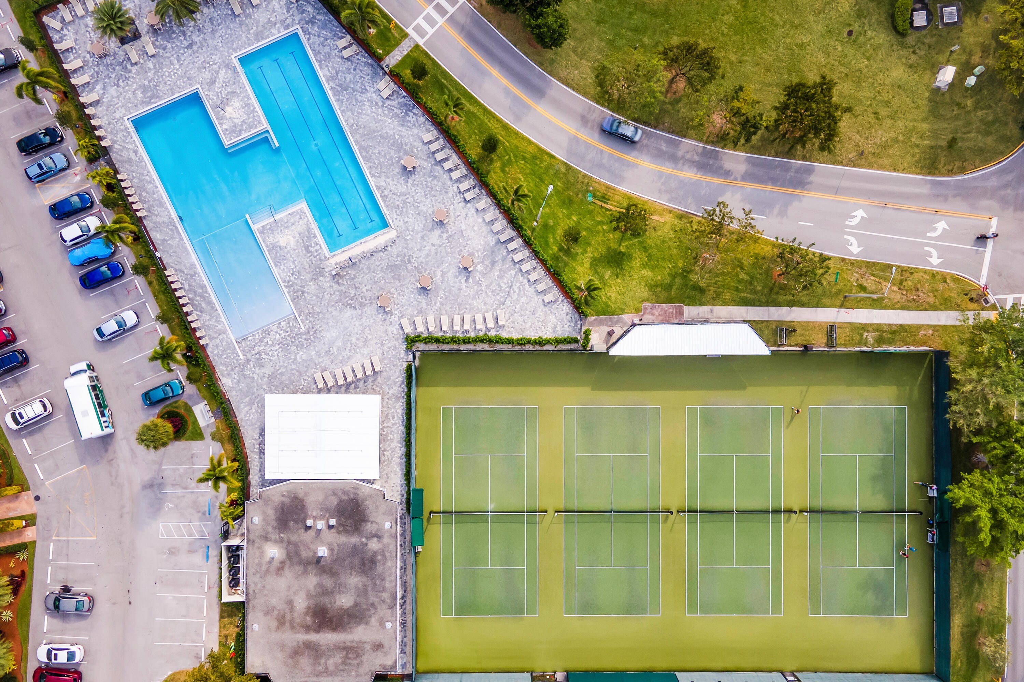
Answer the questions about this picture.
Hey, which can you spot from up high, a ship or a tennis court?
tennis court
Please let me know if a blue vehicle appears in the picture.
Yes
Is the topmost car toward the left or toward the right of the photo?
left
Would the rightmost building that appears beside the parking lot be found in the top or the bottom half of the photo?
bottom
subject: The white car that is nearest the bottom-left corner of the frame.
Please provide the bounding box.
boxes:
[40,642,83,664]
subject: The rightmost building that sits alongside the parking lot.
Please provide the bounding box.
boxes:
[245,478,401,682]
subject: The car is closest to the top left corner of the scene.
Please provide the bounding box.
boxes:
[0,52,25,77]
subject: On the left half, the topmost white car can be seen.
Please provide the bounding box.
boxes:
[57,215,103,246]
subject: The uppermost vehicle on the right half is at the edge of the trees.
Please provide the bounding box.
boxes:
[600,116,643,145]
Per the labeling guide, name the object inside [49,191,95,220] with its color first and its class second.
blue car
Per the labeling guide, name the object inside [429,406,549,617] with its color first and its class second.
green tennis court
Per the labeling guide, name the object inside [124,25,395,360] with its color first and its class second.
blue swimming pool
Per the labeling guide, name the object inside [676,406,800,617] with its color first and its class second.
green tennis court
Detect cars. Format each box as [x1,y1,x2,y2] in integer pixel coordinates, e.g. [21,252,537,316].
[80,261,125,290]
[49,591,92,613]
[0,324,18,347]
[141,379,186,407]
[49,191,95,220]
[17,126,63,155]
[57,215,103,246]
[94,312,140,341]
[0,348,30,376]
[40,642,83,664]
[70,239,116,267]
[6,398,53,428]
[0,52,25,77]
[24,154,70,184]
[600,116,643,145]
